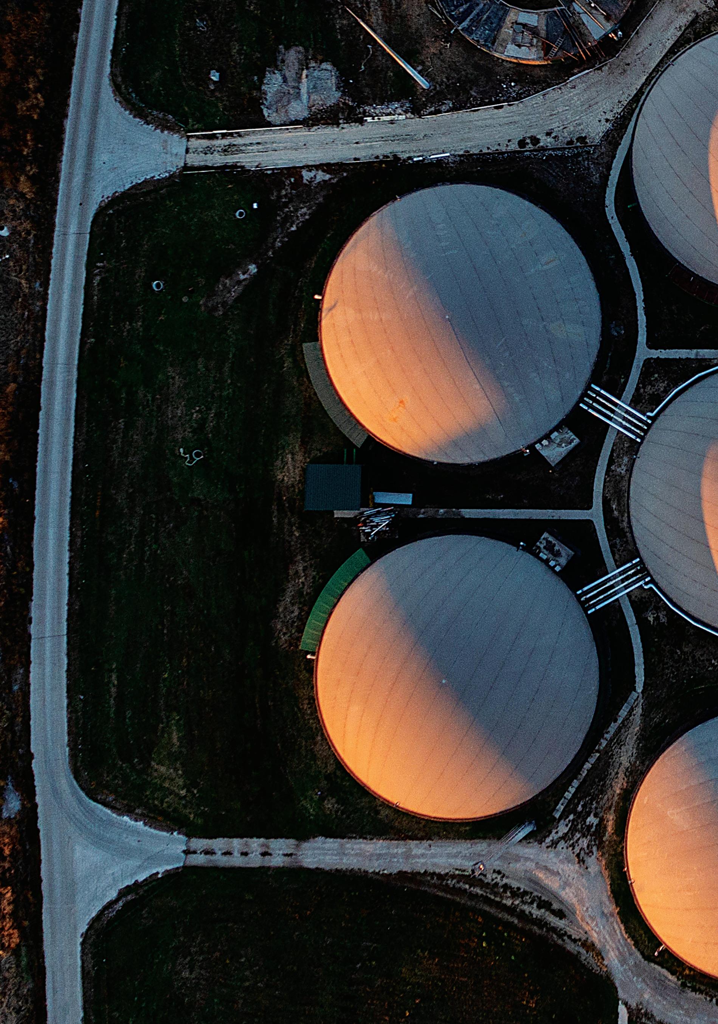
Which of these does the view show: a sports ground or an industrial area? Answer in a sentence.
It's an industrial area.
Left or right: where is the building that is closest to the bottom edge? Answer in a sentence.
The building that is closest to the bottom edge appears in the right half of the scene.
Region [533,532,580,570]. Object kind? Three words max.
building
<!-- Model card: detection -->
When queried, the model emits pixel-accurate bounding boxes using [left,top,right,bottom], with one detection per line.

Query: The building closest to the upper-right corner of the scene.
[538,426,586,466]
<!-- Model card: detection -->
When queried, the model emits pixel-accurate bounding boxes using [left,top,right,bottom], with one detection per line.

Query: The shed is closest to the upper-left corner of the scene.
[304,465,371,510]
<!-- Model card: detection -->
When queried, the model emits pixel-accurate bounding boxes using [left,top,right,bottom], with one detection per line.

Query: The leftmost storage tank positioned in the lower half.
[300,532,611,821]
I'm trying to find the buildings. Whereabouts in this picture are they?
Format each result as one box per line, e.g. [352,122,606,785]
[304,465,371,510]
[533,532,580,570]
[538,426,586,466]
